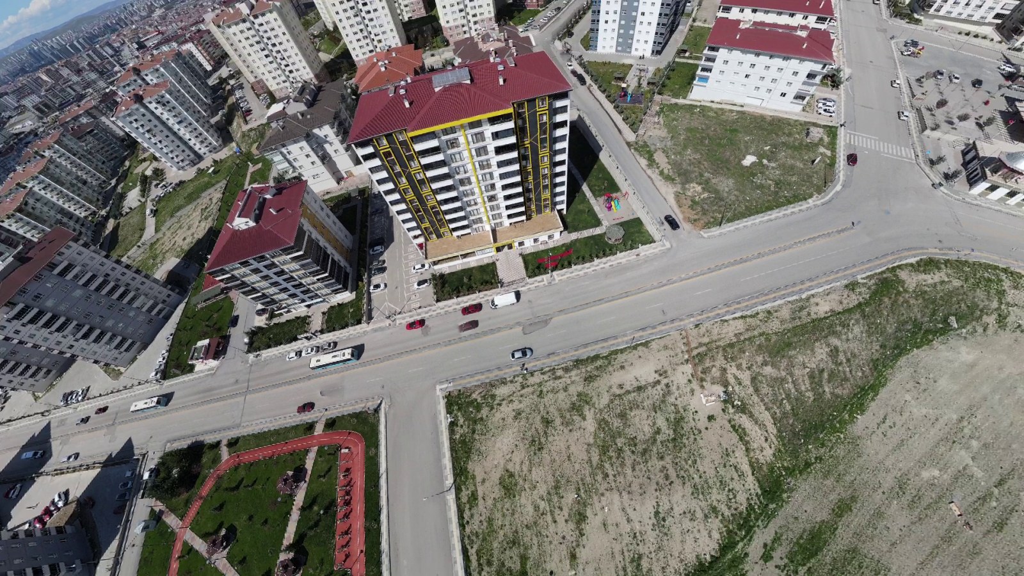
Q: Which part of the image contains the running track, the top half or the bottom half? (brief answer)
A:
bottom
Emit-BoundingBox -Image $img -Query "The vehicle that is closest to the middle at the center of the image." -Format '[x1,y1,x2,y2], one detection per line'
[492,289,517,306]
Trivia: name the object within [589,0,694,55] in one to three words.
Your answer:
building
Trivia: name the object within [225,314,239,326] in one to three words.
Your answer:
vehicle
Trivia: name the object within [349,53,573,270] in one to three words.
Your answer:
building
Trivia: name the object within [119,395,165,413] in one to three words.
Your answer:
vehicle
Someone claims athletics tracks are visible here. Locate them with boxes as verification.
[170,431,365,576]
